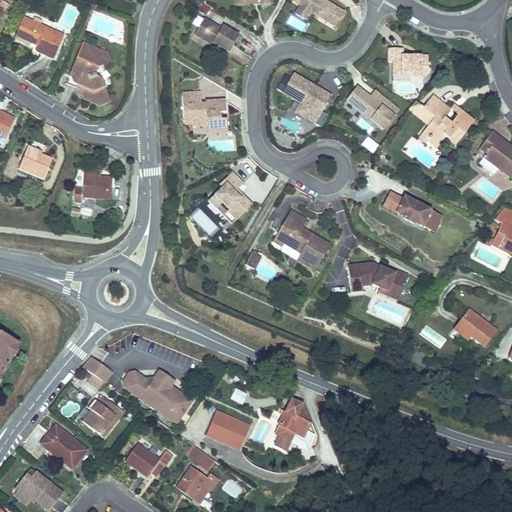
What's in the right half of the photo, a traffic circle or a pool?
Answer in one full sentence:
Looking in the right half of the photo, you will find a pool.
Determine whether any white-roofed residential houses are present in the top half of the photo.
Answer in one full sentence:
Yes, a white-roofed residential house shows up in the top half of the photo.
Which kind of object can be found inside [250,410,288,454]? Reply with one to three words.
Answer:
swimming pool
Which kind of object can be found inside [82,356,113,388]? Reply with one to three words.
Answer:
house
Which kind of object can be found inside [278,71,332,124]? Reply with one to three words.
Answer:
house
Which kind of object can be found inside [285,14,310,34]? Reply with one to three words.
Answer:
swimming pool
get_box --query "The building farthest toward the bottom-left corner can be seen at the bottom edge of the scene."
[14,468,68,512]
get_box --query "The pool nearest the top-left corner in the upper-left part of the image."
[58,4,80,34]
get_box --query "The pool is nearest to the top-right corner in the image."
[393,70,432,100]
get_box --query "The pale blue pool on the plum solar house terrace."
[254,256,283,282]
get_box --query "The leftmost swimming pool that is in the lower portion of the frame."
[60,400,80,418]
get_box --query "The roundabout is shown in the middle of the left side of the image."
[81,258,152,328]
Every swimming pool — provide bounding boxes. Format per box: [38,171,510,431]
[285,14,310,34]
[393,70,432,100]
[470,241,512,272]
[356,118,378,134]
[254,256,283,282]
[58,4,80,34]
[204,128,236,152]
[402,137,439,169]
[366,294,411,328]
[470,176,502,204]
[60,400,80,418]
[250,410,288,454]
[86,10,124,44]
